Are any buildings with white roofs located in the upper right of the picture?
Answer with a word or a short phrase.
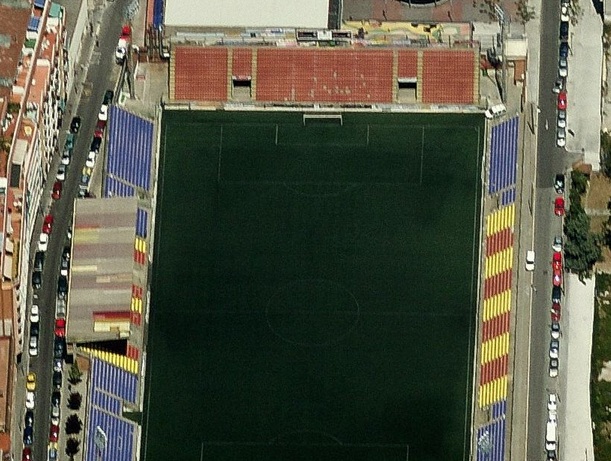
Yes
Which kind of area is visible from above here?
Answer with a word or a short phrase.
sports ground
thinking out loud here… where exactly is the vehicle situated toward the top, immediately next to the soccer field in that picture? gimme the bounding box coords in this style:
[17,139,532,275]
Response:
[483,103,505,120]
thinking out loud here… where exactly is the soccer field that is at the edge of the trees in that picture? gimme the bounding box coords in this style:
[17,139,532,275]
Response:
[121,110,485,461]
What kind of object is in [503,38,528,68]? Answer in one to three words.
building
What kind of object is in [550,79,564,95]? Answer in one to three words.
vehicle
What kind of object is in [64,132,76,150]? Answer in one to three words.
vehicle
